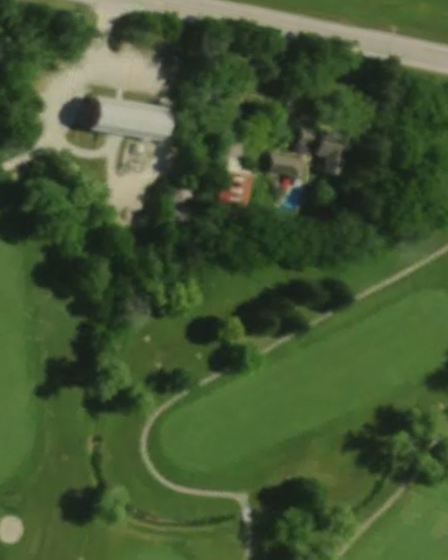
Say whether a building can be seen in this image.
Yes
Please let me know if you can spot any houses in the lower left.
No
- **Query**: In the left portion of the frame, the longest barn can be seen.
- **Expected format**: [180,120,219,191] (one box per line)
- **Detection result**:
[96,95,173,140]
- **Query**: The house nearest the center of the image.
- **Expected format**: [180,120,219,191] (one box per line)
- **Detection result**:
[270,149,314,182]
